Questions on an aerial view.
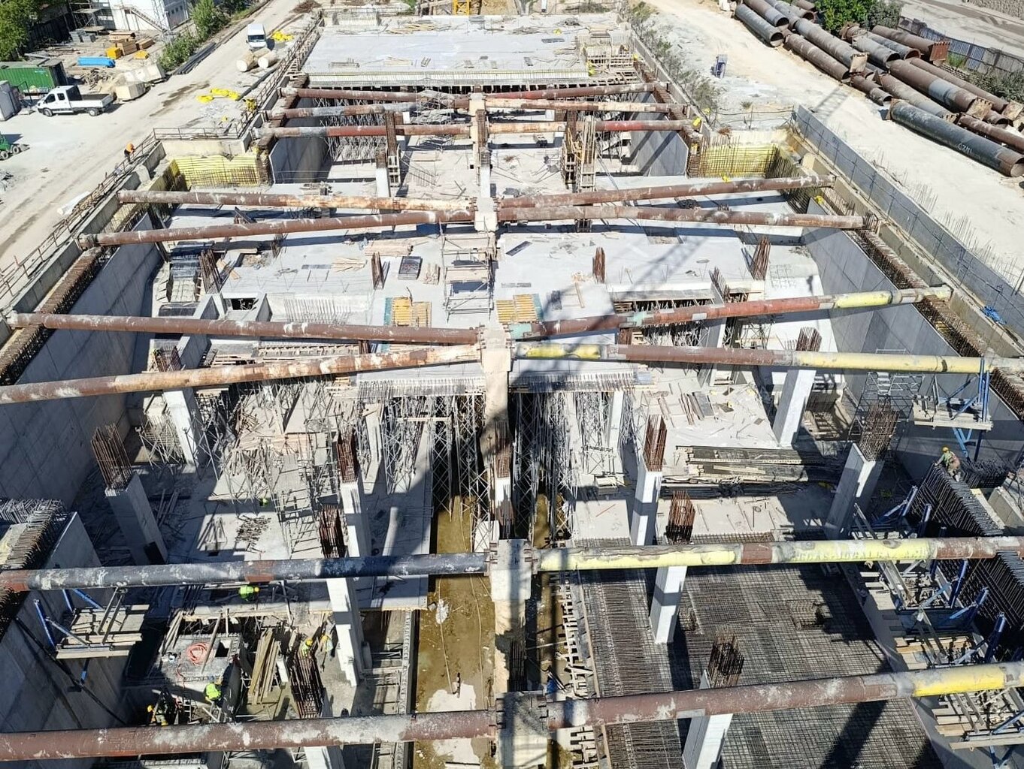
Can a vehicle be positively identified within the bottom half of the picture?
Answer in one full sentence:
No, no vehicle appears within the bottom half of the picture.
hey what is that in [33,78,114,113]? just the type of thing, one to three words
truck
